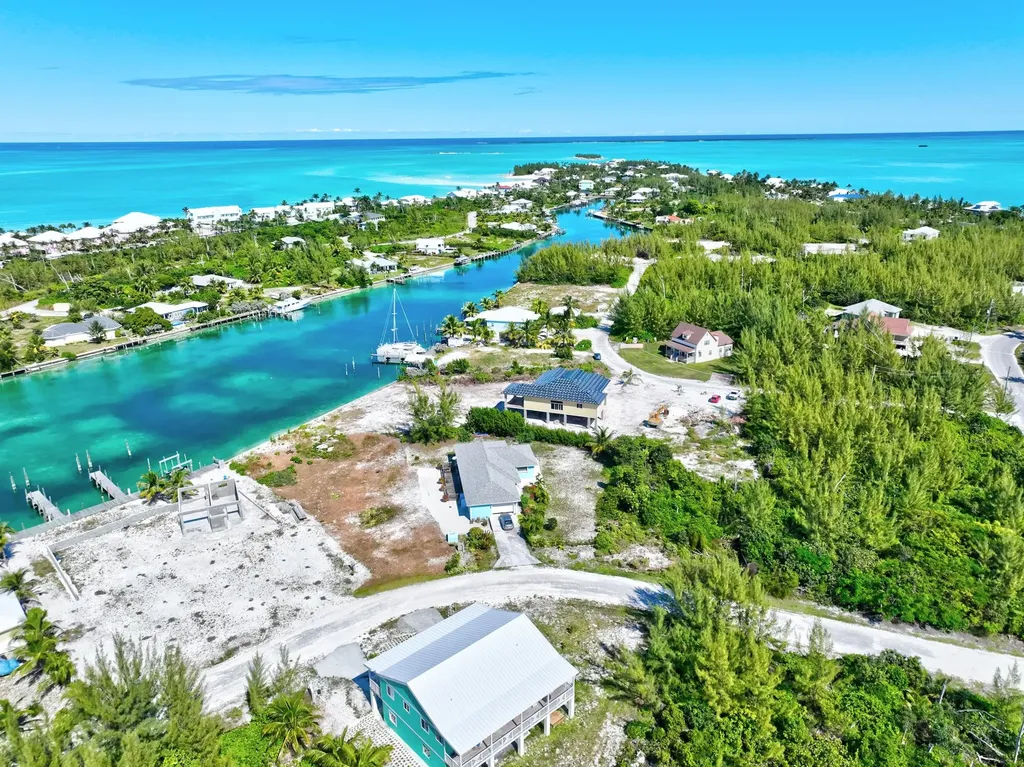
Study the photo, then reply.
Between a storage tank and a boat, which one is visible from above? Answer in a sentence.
Of the two, only a boat appears.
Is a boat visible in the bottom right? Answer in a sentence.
No, in the bottom right there is no boat.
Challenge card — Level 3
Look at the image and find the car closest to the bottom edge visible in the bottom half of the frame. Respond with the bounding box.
[498,511,513,529]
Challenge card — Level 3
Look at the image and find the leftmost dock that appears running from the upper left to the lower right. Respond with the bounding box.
[19,487,79,527]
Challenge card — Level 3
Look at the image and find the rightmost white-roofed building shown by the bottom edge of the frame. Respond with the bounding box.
[363,603,580,767]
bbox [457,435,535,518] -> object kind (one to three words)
house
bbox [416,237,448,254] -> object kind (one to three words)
house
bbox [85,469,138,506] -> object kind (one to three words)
pier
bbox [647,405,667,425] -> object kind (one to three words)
work vehicle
